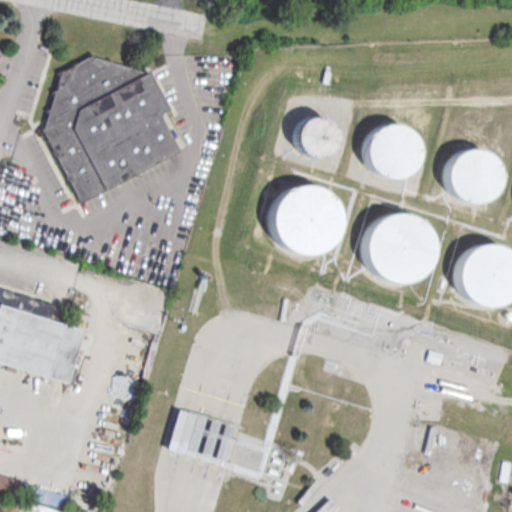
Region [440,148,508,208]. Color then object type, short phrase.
white storage tank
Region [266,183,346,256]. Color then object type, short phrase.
white storage tank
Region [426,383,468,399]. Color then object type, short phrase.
white vehicle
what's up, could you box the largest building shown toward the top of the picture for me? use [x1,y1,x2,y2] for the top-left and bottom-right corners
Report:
[44,57,181,203]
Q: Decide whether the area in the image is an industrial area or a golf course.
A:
industrial area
